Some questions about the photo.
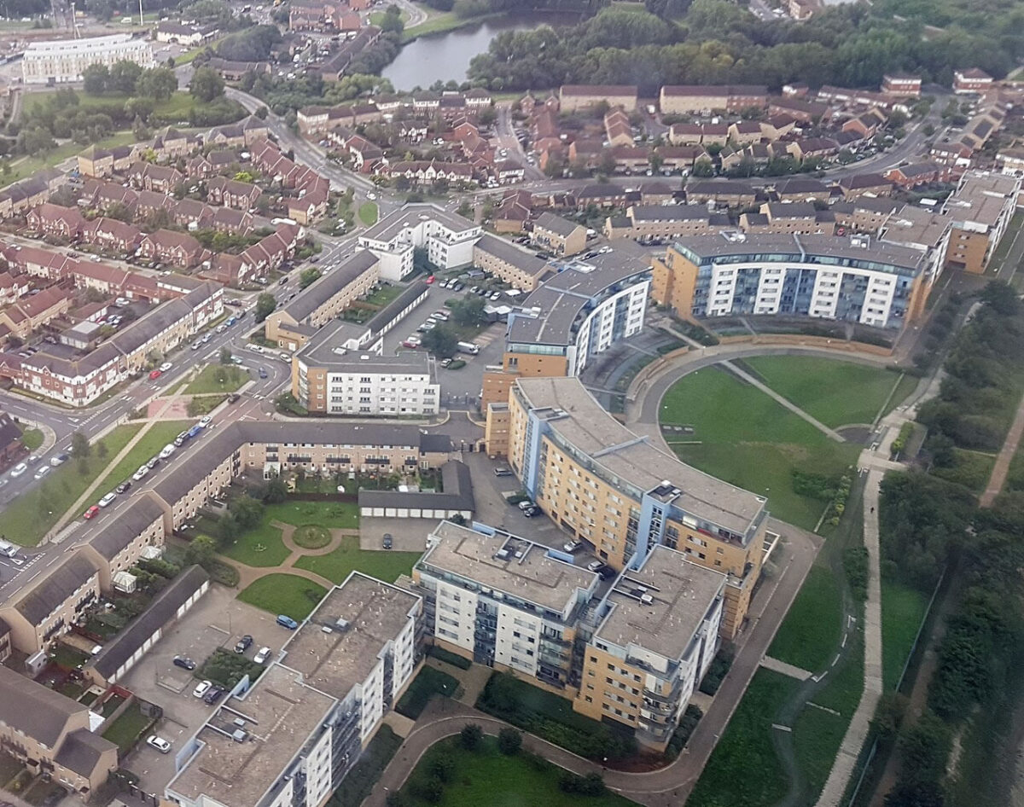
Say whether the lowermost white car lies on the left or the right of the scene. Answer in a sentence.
You can find the lowermost white car on the left side of the picture.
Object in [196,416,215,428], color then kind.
white vehicle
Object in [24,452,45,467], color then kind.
gray car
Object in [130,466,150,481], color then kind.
white car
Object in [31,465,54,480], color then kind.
white car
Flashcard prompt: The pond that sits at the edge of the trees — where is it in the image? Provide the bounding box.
[381,10,597,95]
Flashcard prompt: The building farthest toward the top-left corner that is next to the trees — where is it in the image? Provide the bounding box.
[20,29,154,88]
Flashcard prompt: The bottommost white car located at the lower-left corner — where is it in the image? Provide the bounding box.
[143,734,175,755]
